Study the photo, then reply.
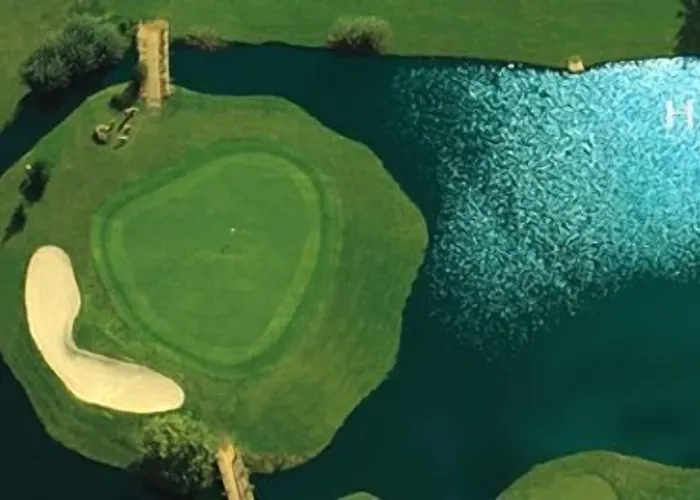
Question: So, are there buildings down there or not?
No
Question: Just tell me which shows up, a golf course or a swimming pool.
golf course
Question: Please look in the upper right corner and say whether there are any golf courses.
No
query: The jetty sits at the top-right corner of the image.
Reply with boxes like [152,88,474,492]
[566,51,585,75]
